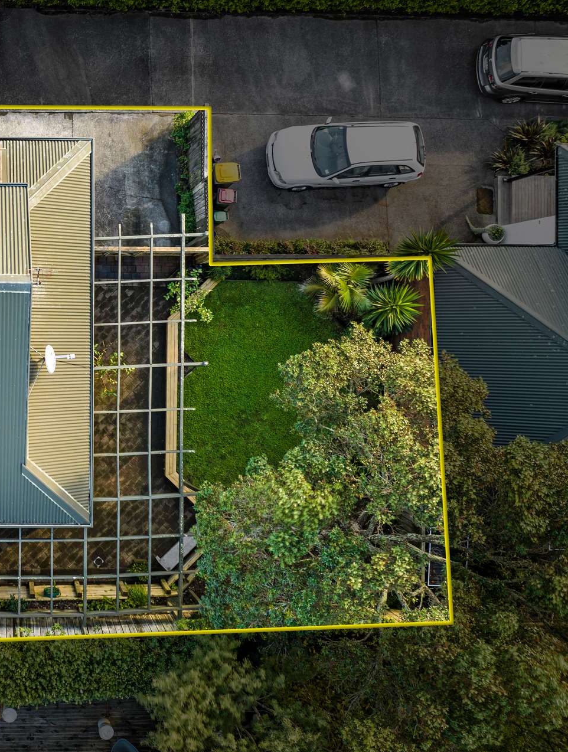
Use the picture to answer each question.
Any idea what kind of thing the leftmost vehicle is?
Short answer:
automobile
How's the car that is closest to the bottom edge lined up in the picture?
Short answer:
horizontally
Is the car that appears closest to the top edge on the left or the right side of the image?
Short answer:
right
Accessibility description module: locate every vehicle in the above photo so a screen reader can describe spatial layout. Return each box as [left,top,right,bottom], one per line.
[475,30,568,105]
[264,113,428,192]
